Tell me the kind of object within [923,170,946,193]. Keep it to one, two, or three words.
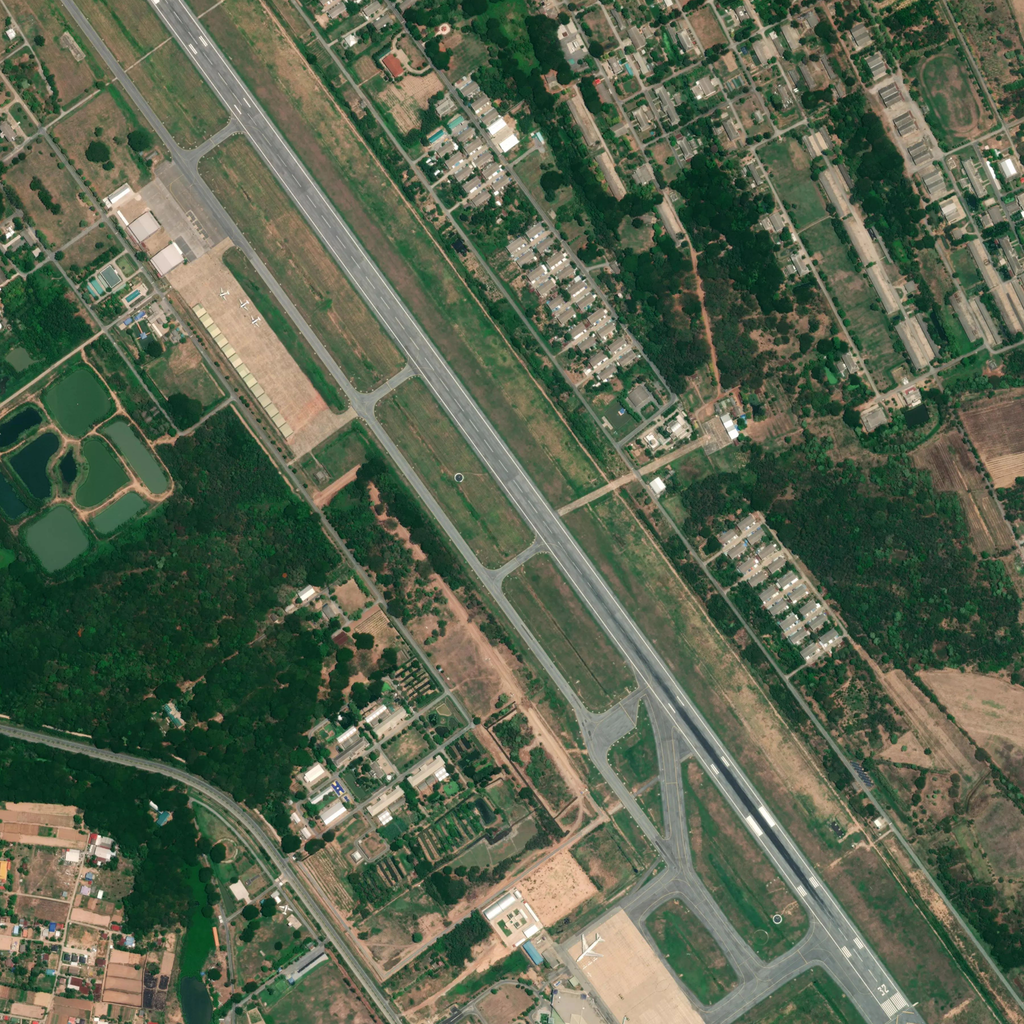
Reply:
building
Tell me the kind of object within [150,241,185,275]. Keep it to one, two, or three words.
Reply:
hangar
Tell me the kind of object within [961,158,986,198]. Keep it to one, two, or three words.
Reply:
house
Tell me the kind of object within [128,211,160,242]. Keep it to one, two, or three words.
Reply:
hangar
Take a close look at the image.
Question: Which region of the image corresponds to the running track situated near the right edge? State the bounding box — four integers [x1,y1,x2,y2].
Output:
[919,52,984,137]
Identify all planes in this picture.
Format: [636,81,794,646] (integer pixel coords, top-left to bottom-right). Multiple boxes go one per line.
[240,298,249,310]
[280,905,292,914]
[220,287,230,301]
[252,315,261,327]
[576,933,605,962]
